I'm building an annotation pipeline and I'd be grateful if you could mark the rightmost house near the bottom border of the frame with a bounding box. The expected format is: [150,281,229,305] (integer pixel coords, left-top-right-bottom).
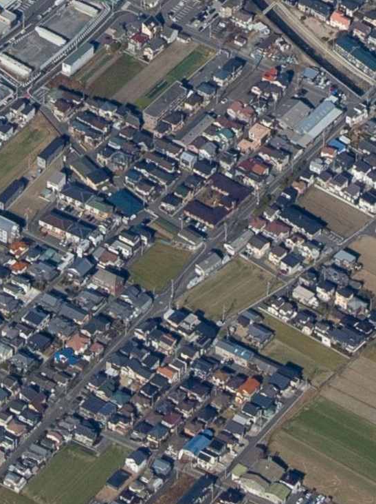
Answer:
[280,472,308,503]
